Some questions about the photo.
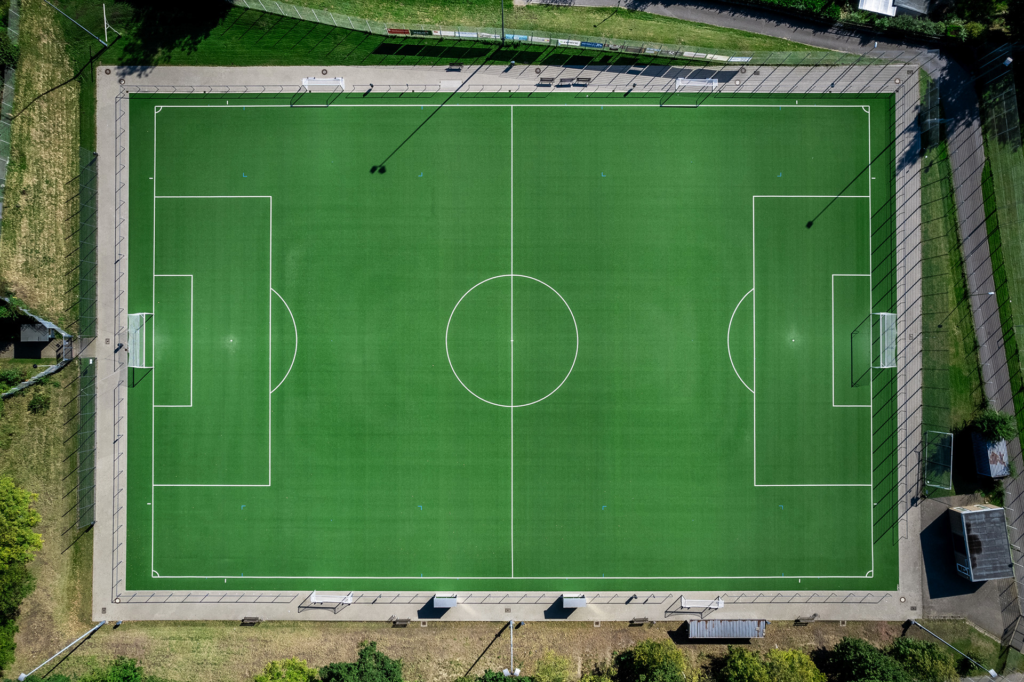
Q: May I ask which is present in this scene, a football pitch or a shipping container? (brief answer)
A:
football pitch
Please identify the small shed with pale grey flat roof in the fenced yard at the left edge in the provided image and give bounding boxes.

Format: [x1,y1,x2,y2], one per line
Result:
[21,324,59,342]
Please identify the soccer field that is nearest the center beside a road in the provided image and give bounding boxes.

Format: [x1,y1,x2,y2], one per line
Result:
[126,92,899,591]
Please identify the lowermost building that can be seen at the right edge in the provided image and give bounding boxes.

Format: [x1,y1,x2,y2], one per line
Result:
[948,505,1014,582]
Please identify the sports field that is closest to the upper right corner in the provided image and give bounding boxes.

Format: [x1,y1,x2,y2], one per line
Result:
[980,50,1024,378]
